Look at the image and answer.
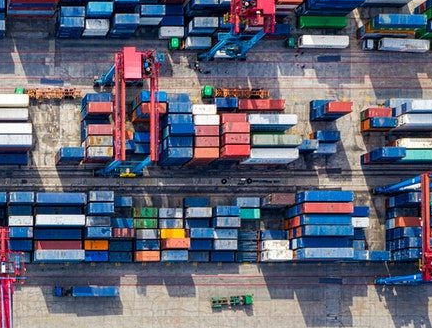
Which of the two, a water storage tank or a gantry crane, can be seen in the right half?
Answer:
gantry crane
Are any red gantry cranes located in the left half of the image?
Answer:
Yes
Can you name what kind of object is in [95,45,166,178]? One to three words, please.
container crane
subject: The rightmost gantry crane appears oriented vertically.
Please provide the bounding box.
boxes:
[376,171,432,286]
